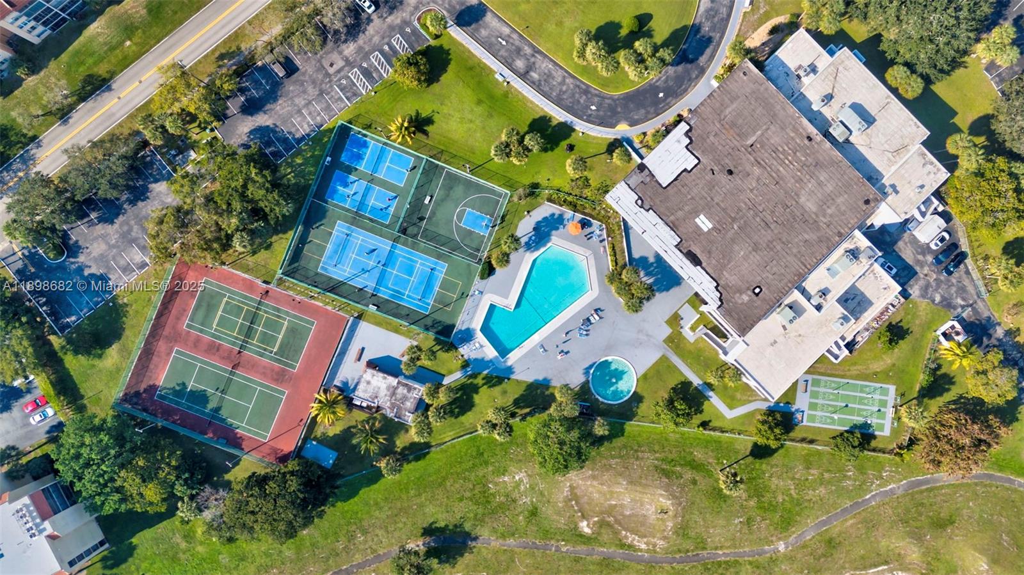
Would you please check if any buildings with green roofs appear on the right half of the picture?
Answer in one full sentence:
No, on the right half of the picture there is no building with a green roof.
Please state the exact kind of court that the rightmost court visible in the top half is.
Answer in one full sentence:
The rightmost court visible in the top half is a basketball court.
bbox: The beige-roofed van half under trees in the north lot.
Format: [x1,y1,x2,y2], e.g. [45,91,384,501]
[266,58,290,80]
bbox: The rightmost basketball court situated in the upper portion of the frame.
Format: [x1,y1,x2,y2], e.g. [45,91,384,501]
[398,159,509,264]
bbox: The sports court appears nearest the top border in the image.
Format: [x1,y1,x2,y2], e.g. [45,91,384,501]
[329,124,422,191]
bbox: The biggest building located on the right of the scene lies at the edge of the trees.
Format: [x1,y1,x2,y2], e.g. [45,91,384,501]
[604,28,952,401]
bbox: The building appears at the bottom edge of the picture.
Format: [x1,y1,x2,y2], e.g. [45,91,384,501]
[0,474,115,575]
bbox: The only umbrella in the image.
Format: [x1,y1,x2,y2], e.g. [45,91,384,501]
[567,221,580,234]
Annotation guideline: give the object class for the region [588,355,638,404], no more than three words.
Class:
swimming pool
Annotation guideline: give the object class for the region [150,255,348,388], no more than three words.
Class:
tennis court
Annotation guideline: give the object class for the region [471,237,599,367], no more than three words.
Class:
swimming pool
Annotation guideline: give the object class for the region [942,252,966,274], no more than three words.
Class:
car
